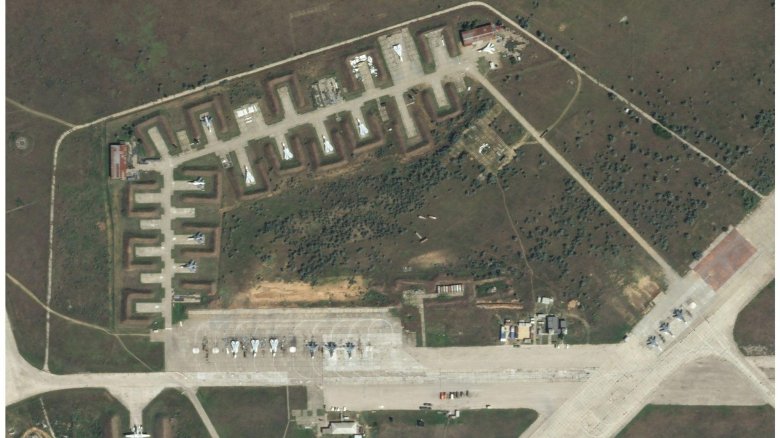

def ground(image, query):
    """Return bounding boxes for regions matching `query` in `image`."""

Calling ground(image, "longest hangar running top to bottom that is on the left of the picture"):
[110,145,127,179]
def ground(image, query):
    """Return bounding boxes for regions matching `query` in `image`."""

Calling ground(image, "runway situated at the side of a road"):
[521,186,780,438]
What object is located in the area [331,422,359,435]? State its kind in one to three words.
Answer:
building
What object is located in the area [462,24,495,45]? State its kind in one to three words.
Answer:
hangar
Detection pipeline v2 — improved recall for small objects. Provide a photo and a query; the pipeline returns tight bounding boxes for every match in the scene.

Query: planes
[181,261,197,273]
[124,428,150,438]
[232,340,239,356]
[647,335,660,350]
[360,120,369,137]
[325,340,337,356]
[673,308,686,322]
[660,321,673,337]
[190,178,206,190]
[306,340,318,356]
[190,233,206,245]
[284,144,292,161]
[394,43,402,59]
[251,340,259,357]
[270,340,278,357]
[344,340,356,357]
[324,136,334,153]
[247,168,255,184]
[478,43,496,51]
